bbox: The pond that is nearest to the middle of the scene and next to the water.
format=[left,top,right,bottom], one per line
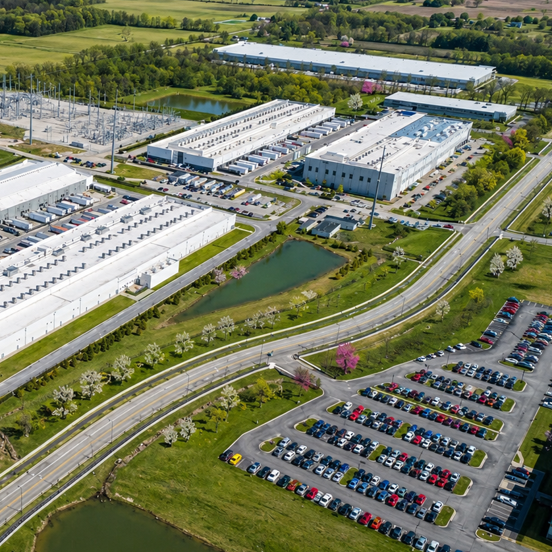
[181,239,344,318]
